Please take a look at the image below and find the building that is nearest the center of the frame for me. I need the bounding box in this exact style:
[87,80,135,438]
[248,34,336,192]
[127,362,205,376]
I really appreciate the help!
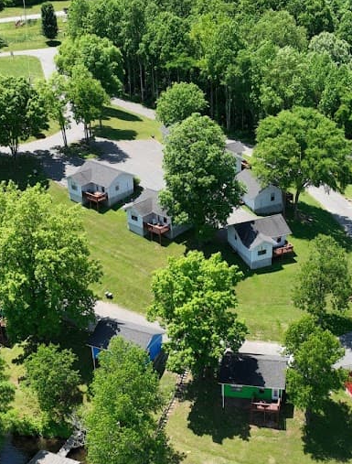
[118,188,194,244]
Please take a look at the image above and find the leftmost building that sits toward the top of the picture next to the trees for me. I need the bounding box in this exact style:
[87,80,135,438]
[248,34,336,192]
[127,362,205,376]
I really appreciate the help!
[63,160,136,208]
